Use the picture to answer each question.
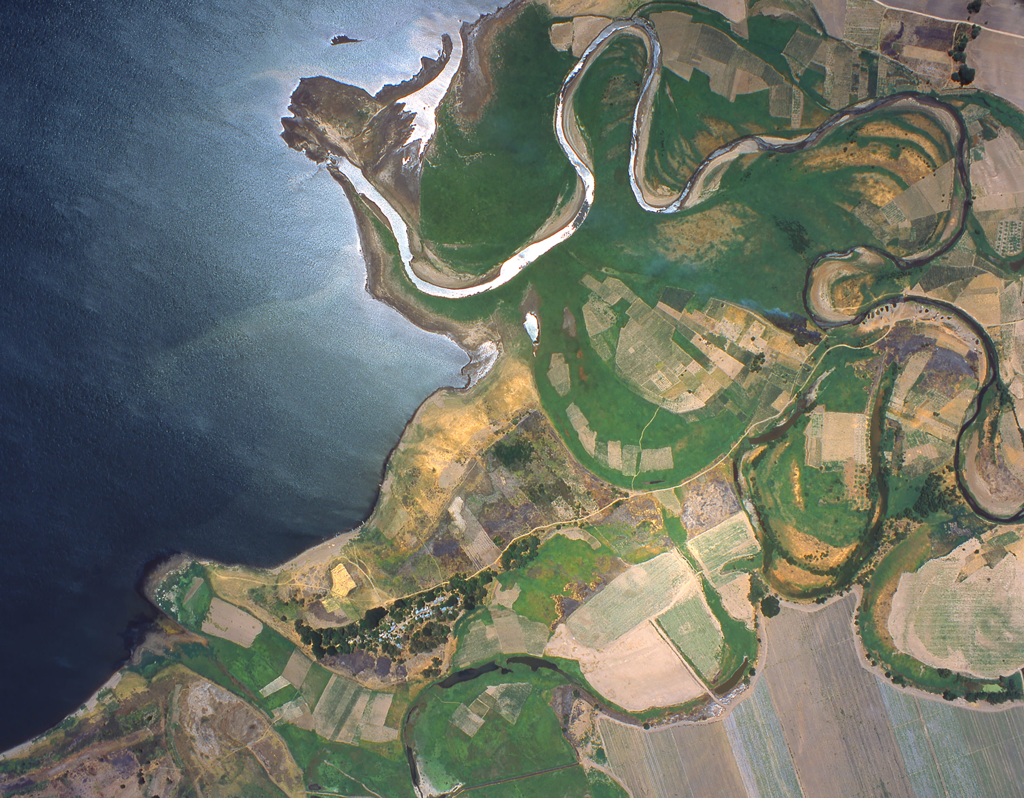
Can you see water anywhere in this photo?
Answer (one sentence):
Yes, some water is visible.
